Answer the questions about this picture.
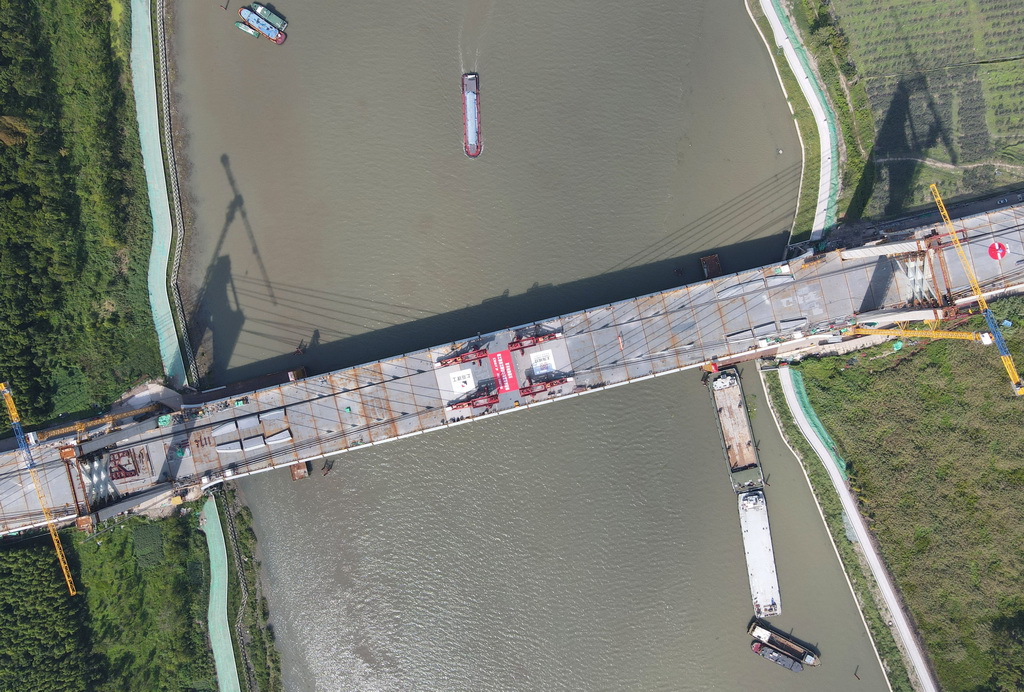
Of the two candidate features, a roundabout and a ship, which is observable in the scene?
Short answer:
ship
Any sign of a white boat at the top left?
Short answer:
Yes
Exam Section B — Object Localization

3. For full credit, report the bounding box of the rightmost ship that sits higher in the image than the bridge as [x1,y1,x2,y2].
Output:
[461,75,481,158]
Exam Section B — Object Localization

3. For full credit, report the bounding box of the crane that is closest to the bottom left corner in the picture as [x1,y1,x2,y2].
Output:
[0,379,168,600]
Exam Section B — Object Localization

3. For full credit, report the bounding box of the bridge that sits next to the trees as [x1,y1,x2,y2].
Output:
[0,204,1024,533]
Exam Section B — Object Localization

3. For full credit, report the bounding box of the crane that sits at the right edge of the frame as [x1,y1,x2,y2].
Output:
[847,181,1024,401]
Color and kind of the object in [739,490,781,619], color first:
white ship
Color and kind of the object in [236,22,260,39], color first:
white boat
